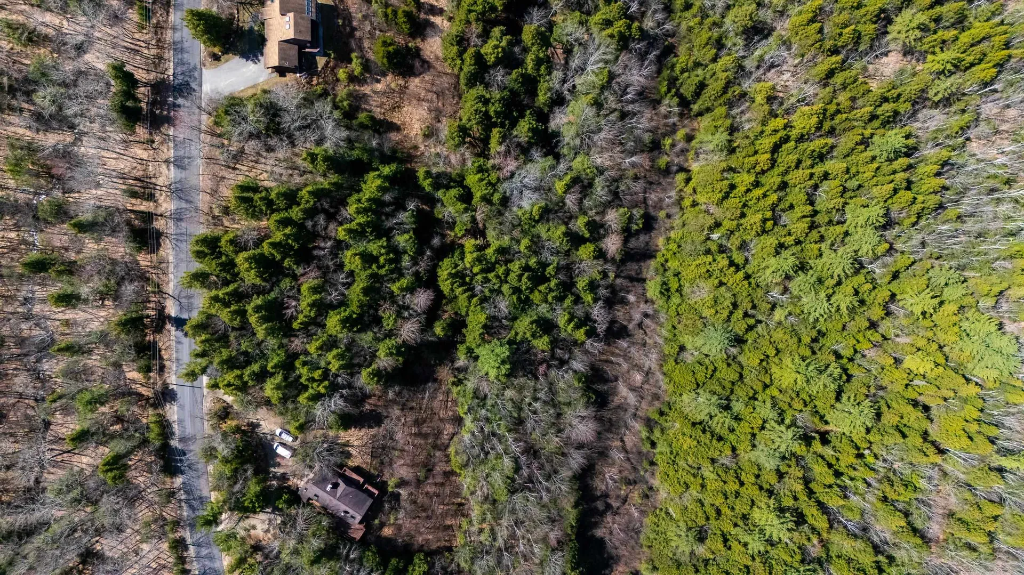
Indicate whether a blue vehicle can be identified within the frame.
No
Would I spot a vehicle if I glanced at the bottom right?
No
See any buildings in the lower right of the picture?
No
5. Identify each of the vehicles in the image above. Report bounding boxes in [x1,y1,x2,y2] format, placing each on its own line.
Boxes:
[273,441,294,460]
[275,427,295,443]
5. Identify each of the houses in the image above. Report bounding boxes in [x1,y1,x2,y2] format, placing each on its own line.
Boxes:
[260,0,325,75]
[299,466,380,541]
